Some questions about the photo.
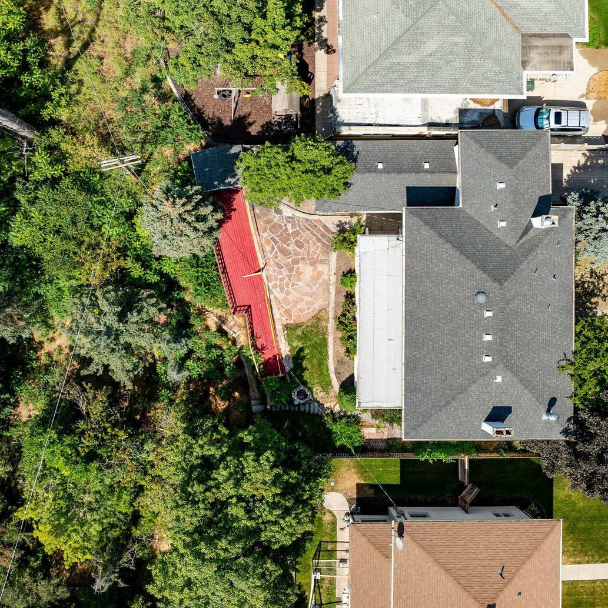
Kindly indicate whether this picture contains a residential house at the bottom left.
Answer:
No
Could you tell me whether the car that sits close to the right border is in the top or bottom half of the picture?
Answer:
top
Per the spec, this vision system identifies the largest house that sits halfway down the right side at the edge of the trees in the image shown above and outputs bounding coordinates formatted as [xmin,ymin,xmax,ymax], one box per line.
[352,128,577,442]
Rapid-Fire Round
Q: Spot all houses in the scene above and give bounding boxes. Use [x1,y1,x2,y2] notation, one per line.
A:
[347,506,564,608]
[352,128,577,442]
[334,0,591,100]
